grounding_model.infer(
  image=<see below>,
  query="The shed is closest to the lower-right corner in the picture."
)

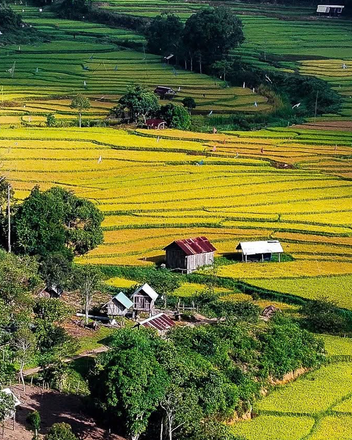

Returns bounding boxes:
[239,240,286,262]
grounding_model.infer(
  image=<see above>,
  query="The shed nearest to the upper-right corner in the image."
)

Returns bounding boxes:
[317,0,348,18]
